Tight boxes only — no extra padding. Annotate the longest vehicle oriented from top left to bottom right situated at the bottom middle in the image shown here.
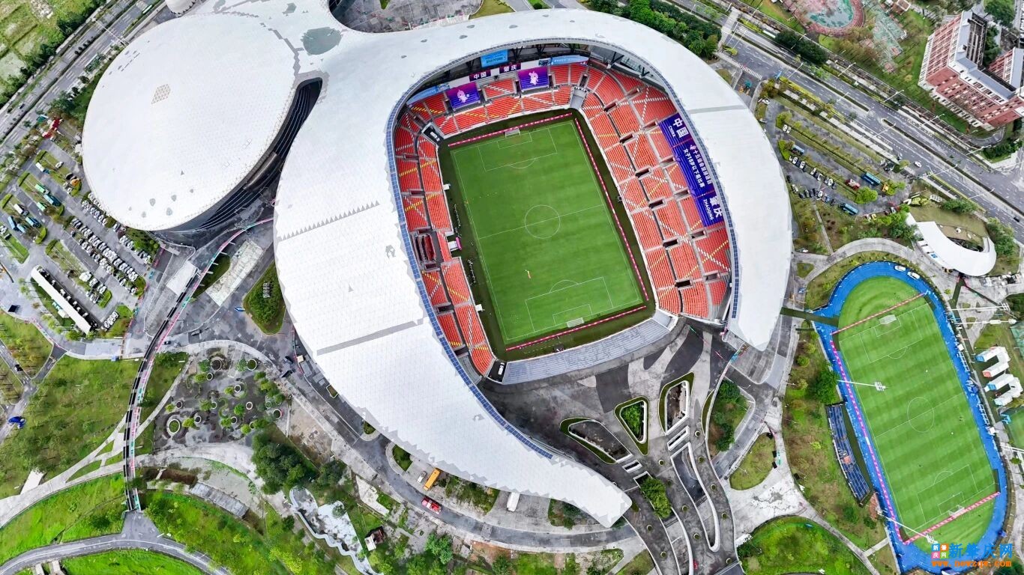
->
[421,496,441,513]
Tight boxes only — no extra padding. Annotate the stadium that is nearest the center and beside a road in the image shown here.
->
[196,0,793,527]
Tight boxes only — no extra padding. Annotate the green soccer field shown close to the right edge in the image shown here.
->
[835,275,995,553]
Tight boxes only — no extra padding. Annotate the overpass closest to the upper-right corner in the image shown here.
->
[714,7,764,70]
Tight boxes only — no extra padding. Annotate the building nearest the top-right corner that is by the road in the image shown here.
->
[913,10,1024,122]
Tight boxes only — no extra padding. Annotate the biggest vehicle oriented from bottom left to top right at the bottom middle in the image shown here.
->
[423,467,442,493]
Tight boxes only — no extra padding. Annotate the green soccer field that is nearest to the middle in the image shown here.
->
[446,116,645,347]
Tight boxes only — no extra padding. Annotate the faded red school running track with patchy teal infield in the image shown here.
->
[784,0,865,36]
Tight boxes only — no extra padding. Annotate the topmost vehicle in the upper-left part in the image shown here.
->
[135,0,159,20]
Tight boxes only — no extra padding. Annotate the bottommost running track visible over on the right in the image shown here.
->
[812,261,1008,575]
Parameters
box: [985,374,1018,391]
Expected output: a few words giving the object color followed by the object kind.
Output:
white tent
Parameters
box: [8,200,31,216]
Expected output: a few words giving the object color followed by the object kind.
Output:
white vehicle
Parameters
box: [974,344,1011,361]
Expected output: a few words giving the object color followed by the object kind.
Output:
white tent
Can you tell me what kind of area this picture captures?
sports ground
